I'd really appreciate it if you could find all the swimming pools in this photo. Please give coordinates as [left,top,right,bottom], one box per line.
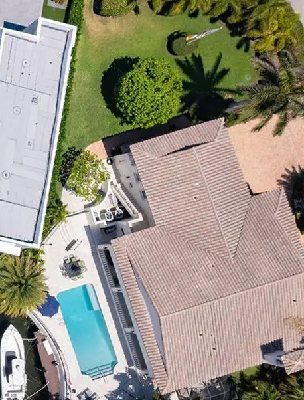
[57,283,119,382]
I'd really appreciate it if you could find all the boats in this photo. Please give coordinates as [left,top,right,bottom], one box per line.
[0,325,38,400]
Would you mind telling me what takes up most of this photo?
buildings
